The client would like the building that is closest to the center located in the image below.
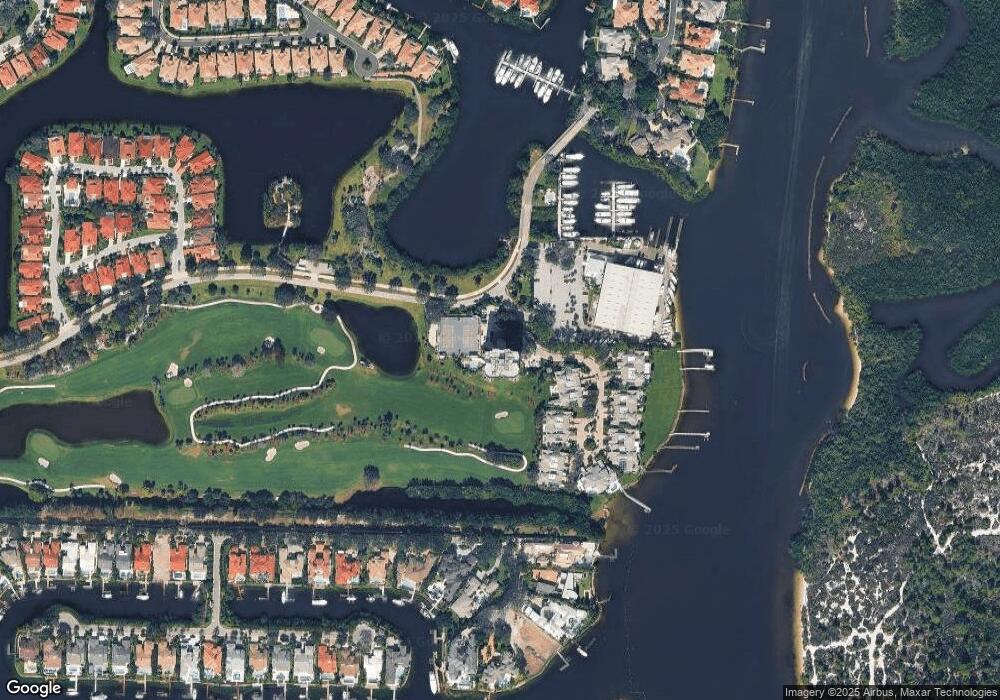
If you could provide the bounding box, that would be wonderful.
[484,349,520,377]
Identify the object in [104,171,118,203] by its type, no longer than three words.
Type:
house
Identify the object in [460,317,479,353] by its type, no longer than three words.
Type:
tennis court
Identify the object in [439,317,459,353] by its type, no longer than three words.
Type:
tennis court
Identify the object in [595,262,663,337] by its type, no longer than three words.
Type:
shed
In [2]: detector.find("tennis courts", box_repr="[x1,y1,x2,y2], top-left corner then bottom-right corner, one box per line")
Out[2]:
[460,317,479,353]
[439,317,459,353]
